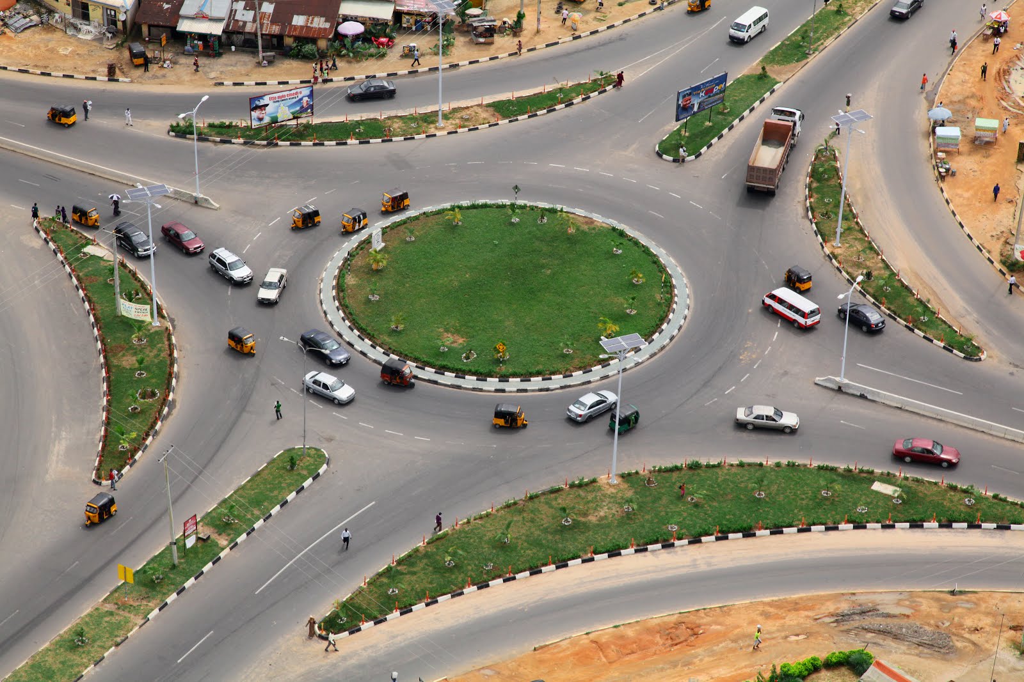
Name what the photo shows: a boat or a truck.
truck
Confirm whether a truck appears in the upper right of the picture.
Yes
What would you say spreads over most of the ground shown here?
paved ground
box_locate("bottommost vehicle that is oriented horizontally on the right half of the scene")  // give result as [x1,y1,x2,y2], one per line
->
[892,437,962,467]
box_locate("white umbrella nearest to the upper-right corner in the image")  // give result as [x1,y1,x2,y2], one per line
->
[991,11,1012,25]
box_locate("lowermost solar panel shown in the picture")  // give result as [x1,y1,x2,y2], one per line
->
[596,337,646,356]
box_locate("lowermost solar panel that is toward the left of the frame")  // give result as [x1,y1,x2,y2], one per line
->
[126,184,170,198]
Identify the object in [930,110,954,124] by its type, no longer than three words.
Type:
umbrella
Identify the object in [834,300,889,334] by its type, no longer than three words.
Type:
car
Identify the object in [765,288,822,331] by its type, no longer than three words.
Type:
vehicle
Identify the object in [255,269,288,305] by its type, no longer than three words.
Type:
car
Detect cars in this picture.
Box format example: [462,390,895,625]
[834,300,889,334]
[113,219,159,257]
[565,388,622,423]
[344,78,396,101]
[736,404,803,433]
[301,370,360,404]
[255,269,288,305]
[890,0,925,18]
[892,437,962,467]
[301,328,353,367]
[162,222,207,254]
[208,245,257,285]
